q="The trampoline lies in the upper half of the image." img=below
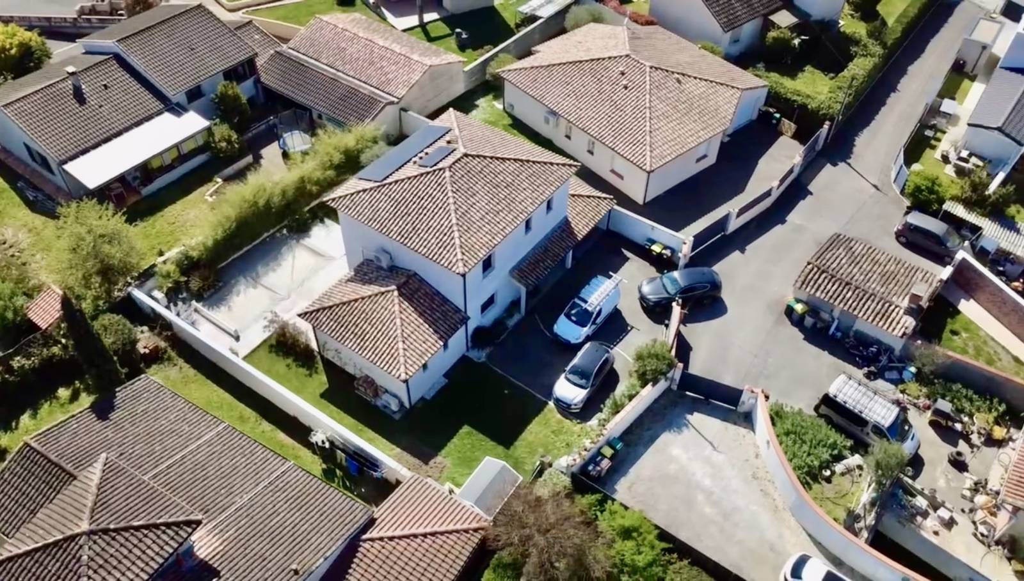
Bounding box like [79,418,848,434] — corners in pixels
[270,108,313,155]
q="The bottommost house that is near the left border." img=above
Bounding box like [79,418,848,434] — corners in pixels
[0,373,373,581]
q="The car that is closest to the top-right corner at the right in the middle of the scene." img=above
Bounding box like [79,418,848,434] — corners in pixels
[893,212,962,255]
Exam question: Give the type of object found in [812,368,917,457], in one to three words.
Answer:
van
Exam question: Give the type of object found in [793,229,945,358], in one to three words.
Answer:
shed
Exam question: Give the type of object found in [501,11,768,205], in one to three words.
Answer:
house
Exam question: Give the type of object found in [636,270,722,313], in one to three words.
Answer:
car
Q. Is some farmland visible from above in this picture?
No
